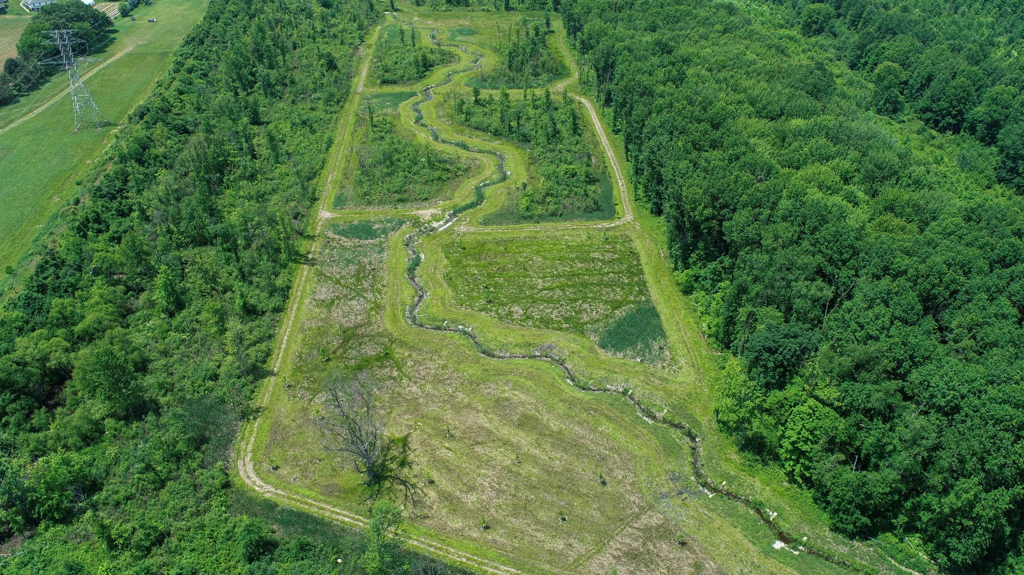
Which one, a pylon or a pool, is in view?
pylon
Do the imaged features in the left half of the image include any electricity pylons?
Yes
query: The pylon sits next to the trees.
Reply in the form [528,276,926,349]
[40,27,107,131]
